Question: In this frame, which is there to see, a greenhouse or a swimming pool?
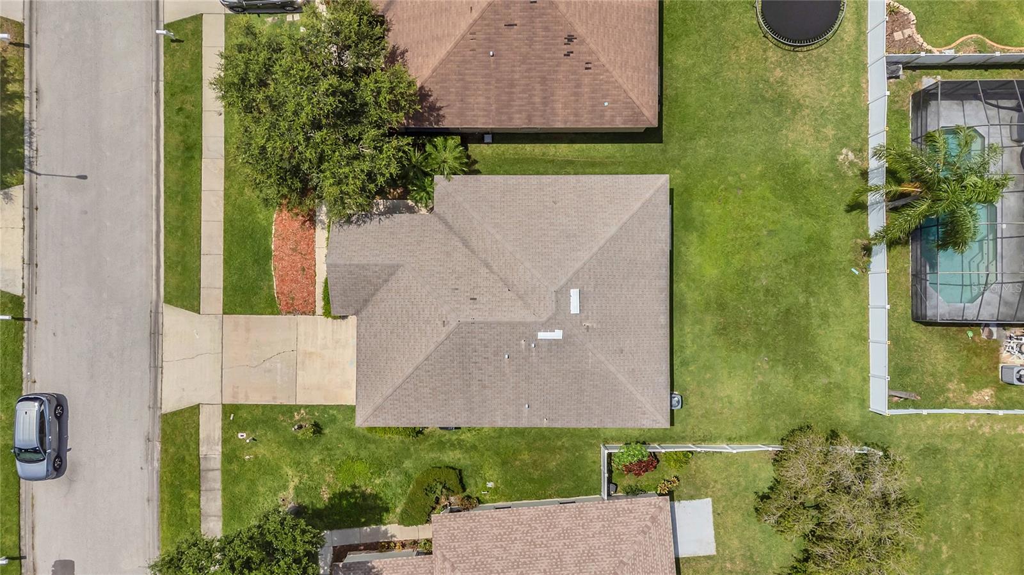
swimming pool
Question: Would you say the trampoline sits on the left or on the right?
right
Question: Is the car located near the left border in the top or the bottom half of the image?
bottom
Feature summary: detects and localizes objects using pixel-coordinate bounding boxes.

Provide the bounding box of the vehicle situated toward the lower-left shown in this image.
[11,393,64,480]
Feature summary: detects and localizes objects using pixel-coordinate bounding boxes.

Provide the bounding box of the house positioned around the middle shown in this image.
[325,174,670,428]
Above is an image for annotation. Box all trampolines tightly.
[751,0,846,51]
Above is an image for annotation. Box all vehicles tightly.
[220,0,306,13]
[11,393,64,480]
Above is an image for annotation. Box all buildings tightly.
[322,0,658,133]
[325,174,670,428]
[331,488,676,575]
